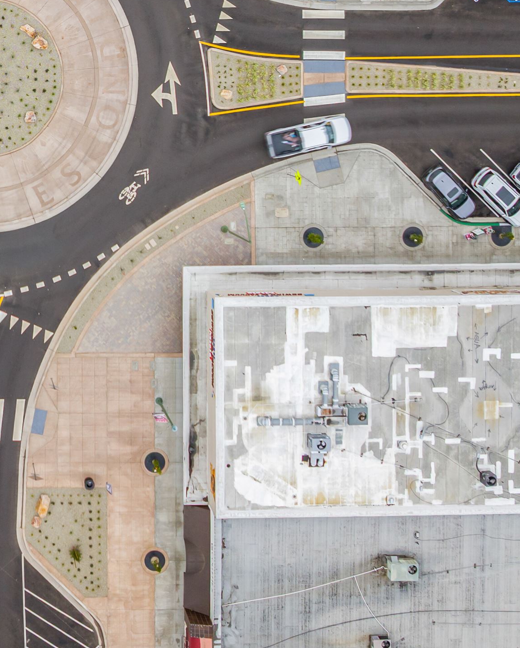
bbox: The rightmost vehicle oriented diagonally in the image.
[469,163,520,229]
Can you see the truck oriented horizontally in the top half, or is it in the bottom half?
top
